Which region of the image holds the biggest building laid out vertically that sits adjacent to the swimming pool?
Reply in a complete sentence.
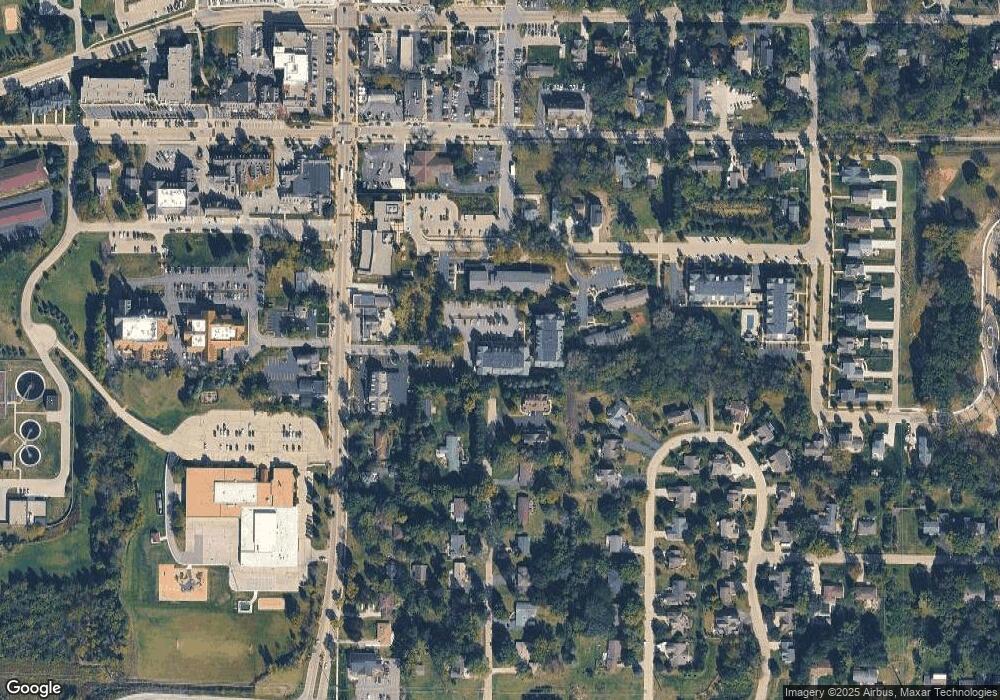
You can find the biggest building laid out vertically that sits adjacent to the swimming pool in the right area of the picture.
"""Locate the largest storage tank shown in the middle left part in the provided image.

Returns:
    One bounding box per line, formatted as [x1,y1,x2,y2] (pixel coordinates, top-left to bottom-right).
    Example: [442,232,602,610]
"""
[16,371,45,400]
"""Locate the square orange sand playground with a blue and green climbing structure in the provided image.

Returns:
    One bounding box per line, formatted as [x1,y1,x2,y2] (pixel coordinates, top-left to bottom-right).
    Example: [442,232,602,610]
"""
[159,563,208,601]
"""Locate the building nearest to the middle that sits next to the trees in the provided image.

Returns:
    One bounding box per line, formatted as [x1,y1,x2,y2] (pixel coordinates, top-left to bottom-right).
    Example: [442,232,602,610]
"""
[474,345,532,377]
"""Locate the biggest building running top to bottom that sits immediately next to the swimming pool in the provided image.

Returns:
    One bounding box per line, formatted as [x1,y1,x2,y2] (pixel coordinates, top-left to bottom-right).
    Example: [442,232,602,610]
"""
[766,276,798,343]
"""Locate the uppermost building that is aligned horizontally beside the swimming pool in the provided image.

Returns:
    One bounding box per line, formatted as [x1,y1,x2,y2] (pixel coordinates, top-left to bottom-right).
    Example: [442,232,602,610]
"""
[688,273,753,304]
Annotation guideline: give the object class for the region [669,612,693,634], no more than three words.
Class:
house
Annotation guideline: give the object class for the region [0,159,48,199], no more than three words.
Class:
barn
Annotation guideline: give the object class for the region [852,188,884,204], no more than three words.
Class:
house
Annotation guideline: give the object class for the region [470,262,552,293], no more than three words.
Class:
building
